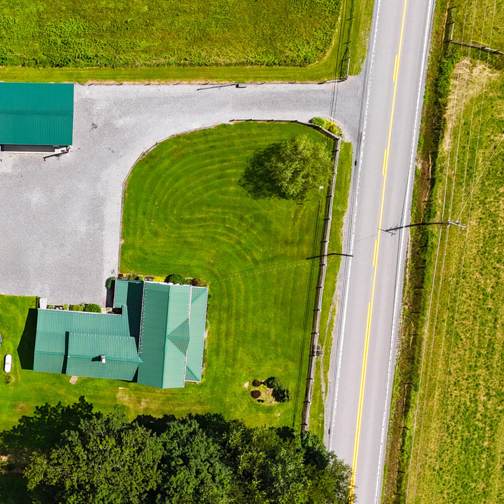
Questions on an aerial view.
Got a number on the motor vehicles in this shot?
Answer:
0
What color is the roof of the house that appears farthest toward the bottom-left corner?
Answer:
green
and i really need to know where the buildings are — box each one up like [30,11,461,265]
[0,82,74,160]
[33,278,209,389]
